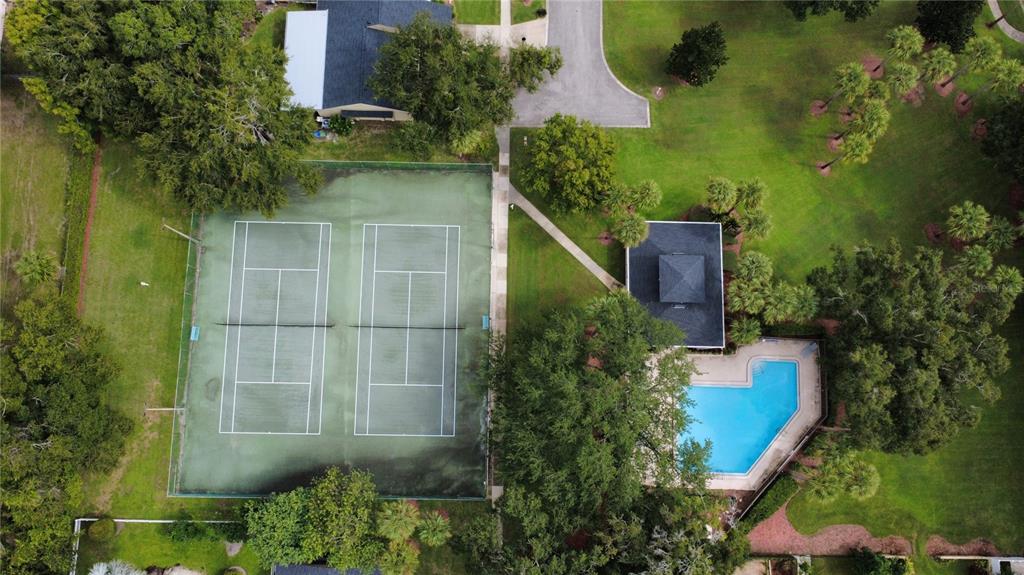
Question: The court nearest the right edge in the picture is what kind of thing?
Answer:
tennis court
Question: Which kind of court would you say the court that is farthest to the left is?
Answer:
tennis court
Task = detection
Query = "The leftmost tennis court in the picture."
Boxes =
[215,222,334,435]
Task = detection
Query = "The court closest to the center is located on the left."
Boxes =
[349,224,466,437]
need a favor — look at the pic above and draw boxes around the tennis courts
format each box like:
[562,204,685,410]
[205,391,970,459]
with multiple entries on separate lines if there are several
[215,222,334,435]
[349,224,466,437]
